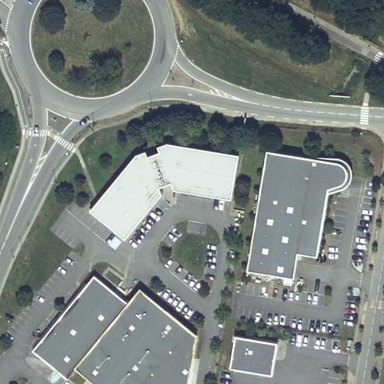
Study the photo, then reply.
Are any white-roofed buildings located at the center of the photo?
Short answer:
Yes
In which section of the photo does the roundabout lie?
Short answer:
top left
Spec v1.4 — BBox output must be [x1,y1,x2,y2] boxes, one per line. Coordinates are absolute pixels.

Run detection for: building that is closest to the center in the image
[90,144,238,240]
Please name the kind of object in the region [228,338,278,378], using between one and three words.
building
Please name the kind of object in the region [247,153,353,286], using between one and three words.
building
